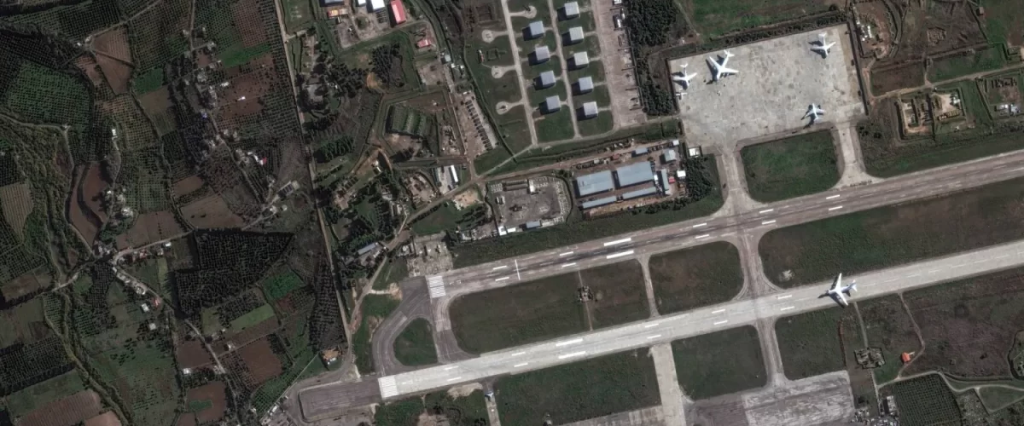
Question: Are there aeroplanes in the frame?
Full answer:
Yes, this view includes an aeroplane.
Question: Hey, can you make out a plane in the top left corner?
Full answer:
No, no plane appears in the top left corner.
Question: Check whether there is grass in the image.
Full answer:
Yes, there is grass in the image.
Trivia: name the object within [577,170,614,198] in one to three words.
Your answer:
building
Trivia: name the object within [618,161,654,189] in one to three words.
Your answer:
building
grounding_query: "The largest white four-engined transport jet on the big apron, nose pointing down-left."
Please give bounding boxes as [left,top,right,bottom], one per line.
[710,49,739,80]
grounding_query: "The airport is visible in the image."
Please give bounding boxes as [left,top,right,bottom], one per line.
[287,0,1024,426]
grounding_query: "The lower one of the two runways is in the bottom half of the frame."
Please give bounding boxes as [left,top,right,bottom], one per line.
[380,240,1024,399]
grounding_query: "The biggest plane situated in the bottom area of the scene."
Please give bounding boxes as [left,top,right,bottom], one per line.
[828,274,860,304]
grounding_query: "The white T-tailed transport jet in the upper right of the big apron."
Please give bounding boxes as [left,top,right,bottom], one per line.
[813,32,836,57]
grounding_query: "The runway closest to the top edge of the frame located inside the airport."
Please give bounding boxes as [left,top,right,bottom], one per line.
[427,149,1024,300]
